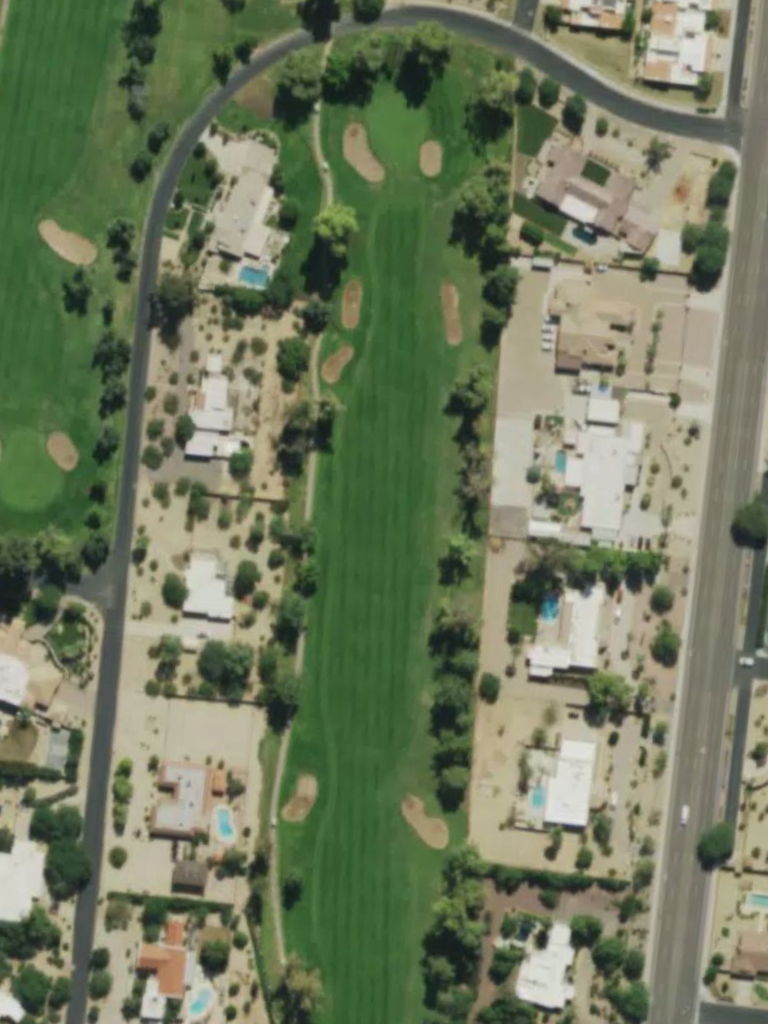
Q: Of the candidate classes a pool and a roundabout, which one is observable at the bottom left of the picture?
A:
pool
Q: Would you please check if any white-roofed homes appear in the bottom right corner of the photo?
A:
Yes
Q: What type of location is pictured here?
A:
golf course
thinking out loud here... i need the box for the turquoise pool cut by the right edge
[744,888,768,913]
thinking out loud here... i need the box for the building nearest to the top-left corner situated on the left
[208,172,274,258]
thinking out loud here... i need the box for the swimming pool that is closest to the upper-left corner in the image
[239,265,269,289]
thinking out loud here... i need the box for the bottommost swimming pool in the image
[186,984,216,1018]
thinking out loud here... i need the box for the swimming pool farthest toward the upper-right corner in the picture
[571,225,599,246]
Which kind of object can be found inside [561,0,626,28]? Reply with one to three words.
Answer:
house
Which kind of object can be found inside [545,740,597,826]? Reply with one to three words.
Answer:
house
